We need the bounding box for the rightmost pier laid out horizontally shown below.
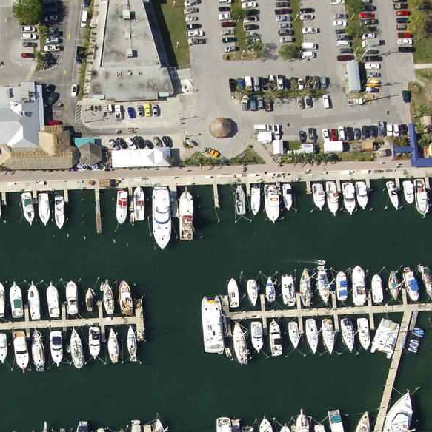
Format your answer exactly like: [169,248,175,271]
[221,288,432,336]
